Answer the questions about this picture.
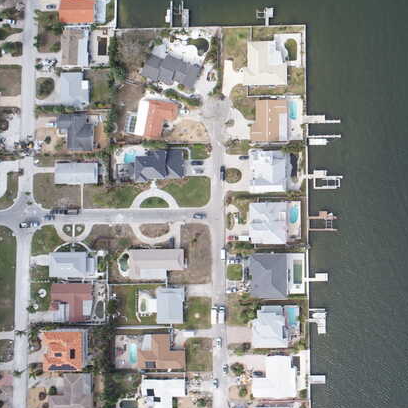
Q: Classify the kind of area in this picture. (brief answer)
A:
residential area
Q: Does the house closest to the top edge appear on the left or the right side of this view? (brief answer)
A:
left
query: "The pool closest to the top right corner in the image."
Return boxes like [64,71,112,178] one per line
[284,38,298,62]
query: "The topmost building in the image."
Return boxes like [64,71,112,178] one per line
[58,0,108,24]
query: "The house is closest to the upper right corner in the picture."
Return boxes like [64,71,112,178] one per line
[245,40,287,85]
